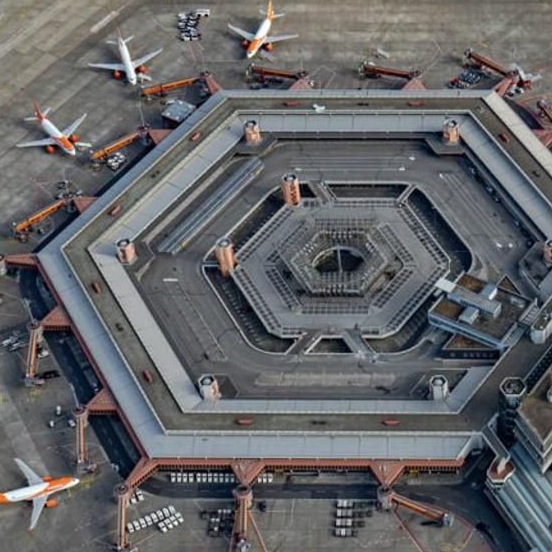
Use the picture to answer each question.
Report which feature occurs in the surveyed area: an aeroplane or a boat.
aeroplane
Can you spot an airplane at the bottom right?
No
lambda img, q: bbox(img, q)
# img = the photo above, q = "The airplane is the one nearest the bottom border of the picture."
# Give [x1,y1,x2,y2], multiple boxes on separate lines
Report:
[0,455,79,526]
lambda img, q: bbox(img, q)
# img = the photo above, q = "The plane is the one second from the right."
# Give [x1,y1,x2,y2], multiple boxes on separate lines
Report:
[89,29,159,84]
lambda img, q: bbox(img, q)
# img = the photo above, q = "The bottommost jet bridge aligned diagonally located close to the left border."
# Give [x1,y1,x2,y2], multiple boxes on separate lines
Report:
[11,191,77,238]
